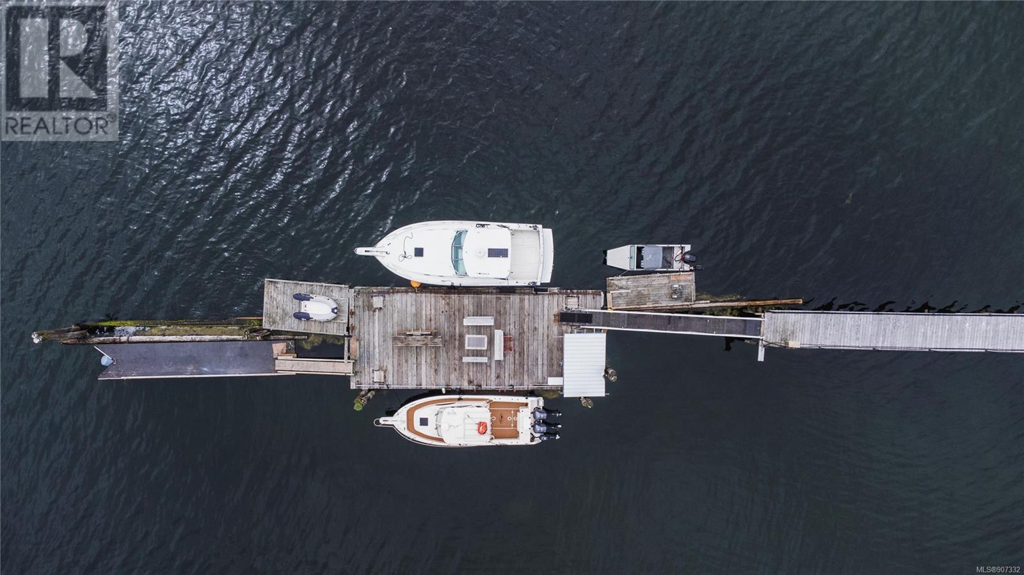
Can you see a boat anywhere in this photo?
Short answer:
Yes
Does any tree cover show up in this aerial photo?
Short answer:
No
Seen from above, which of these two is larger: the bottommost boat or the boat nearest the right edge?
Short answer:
the bottommost boat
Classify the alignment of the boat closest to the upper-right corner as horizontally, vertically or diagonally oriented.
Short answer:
horizontally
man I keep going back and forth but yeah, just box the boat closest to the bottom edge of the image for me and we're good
[373,394,564,449]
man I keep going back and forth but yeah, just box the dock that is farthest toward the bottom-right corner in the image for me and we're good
[742,310,1024,361]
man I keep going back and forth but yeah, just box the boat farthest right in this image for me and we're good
[601,245,707,270]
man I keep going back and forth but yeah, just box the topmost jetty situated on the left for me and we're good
[263,279,350,336]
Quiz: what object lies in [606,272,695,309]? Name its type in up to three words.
pier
